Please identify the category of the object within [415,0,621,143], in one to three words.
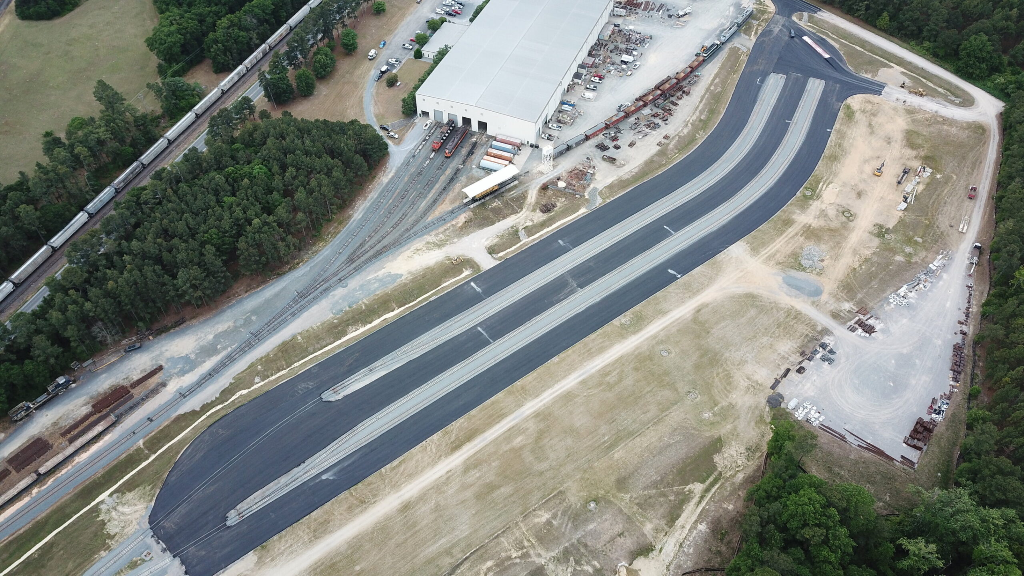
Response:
warehouse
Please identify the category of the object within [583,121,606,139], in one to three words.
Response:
rail car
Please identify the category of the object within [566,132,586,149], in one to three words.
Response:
rail car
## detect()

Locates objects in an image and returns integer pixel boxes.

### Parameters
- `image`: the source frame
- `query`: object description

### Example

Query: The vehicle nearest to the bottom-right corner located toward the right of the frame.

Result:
[787,394,800,410]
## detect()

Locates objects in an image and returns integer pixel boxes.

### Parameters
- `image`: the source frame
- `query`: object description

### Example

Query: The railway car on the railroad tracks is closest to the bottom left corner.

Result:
[0,469,37,499]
